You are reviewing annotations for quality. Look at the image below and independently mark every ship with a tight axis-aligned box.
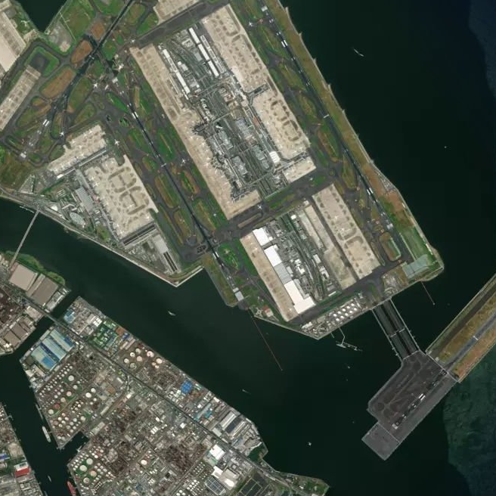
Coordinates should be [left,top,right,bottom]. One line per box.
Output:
[43,426,51,443]
[67,481,77,496]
